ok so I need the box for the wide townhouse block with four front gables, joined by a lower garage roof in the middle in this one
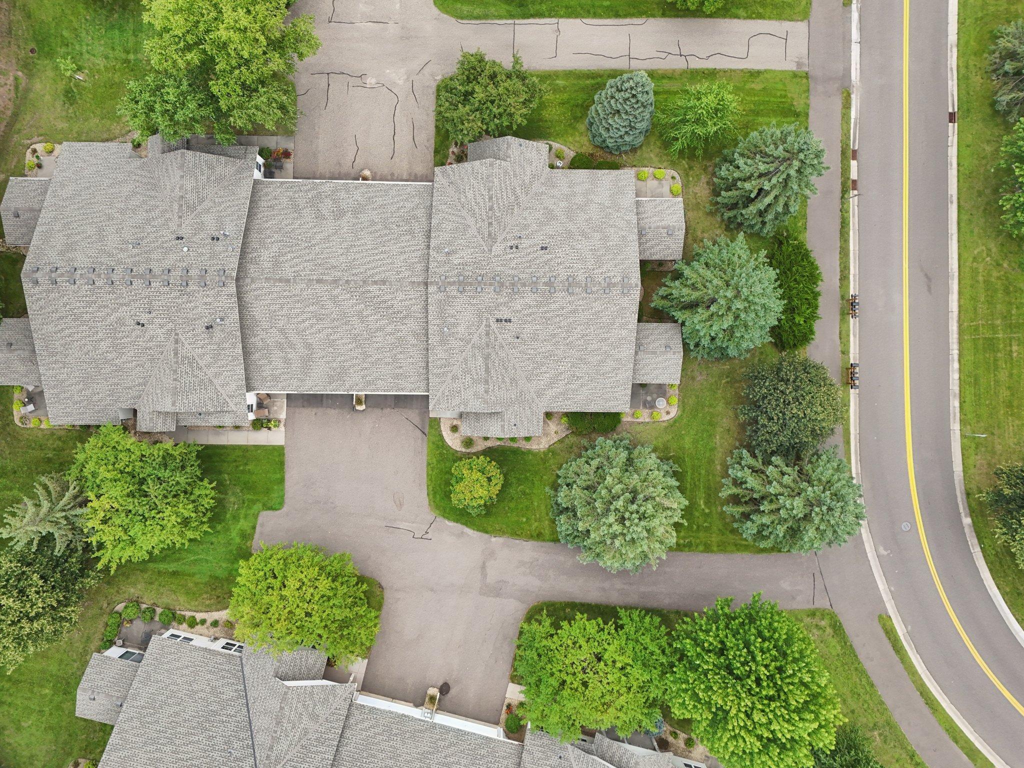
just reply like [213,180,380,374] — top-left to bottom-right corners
[0,135,685,438]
